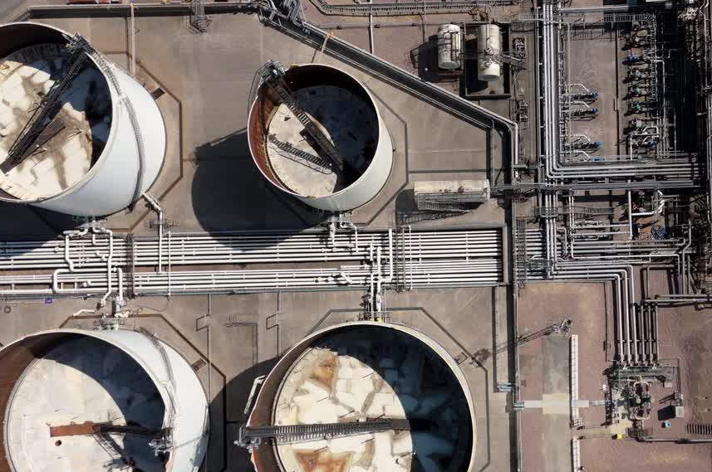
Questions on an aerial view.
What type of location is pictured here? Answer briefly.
industrial area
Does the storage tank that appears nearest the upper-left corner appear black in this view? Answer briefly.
No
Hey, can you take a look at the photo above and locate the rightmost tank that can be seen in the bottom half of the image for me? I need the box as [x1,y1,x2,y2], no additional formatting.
[235,320,477,472]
